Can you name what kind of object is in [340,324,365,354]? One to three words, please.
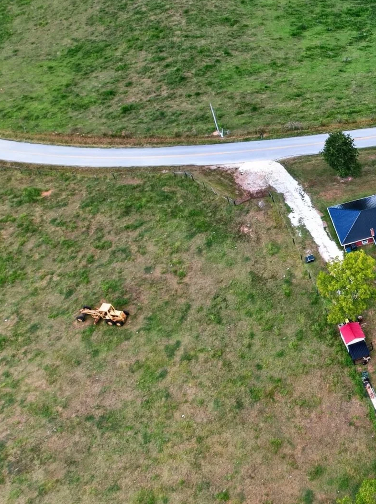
shed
